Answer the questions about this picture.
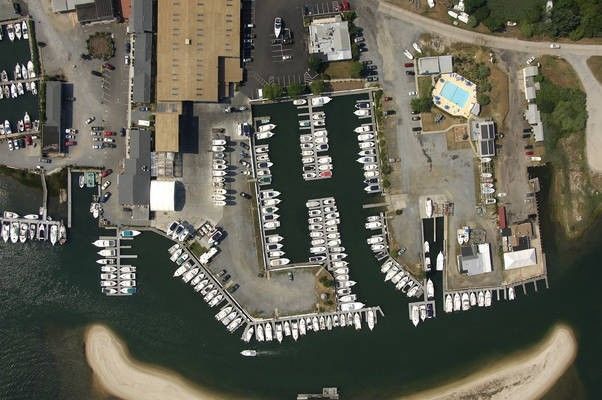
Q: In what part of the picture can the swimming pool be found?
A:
top right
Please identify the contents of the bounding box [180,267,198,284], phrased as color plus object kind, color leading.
white boat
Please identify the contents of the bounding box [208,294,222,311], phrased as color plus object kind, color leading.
white boat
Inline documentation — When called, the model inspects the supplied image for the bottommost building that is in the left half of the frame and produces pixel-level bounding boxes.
[122,205,149,225]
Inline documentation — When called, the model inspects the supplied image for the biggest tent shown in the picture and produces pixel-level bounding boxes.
[149,181,175,211]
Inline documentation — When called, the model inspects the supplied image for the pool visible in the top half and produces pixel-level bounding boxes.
[433,72,477,119]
